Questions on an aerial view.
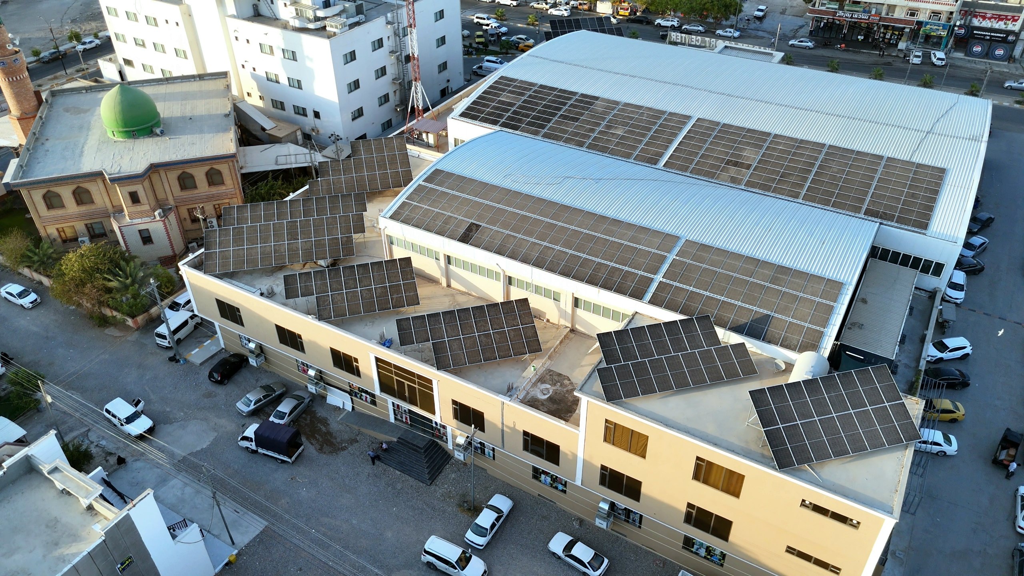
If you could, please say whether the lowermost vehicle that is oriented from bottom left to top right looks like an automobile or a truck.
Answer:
automobile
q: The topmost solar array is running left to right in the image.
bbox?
[544,16,624,39]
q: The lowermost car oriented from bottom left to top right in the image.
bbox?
[462,494,516,547]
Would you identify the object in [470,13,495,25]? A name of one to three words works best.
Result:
vehicle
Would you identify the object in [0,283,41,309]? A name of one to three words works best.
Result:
car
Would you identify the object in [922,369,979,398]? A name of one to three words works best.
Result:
car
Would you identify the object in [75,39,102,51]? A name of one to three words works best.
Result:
vehicle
